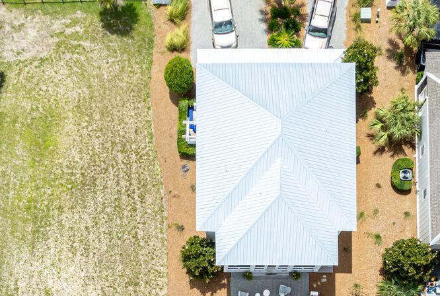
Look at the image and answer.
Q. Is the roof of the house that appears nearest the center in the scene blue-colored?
No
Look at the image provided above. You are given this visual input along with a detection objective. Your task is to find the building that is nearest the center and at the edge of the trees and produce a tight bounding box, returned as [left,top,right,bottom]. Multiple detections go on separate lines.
[178,49,358,286]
